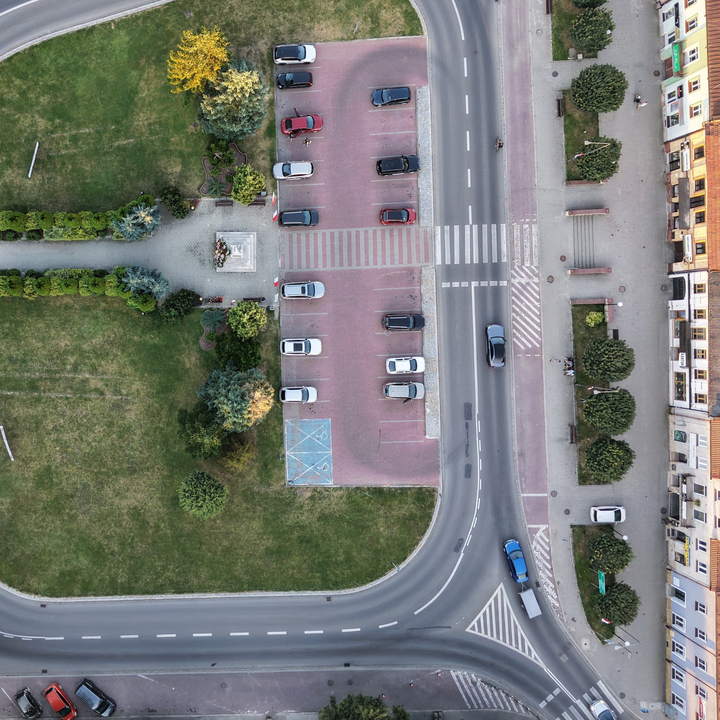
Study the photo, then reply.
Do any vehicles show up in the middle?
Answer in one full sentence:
Yes, in the middle there is a vehicle.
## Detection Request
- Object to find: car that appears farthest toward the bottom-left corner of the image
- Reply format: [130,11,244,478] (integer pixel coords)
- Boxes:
[15,684,44,720]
